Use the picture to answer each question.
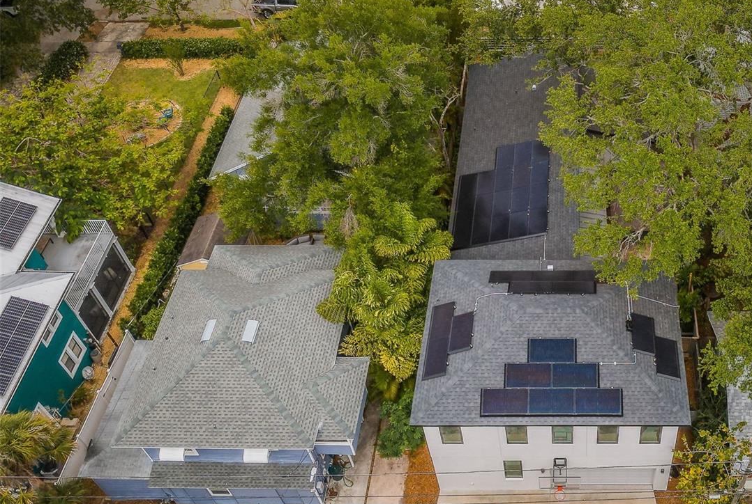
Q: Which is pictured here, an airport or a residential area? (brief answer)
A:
residential area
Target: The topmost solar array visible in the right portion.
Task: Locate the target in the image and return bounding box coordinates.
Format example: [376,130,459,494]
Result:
[452,131,549,259]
